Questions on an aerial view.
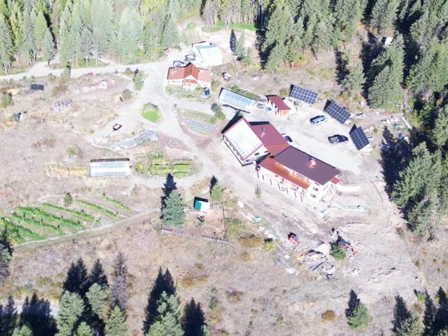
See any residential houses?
Yes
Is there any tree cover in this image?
Yes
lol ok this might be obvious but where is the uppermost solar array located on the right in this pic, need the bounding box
[290,85,318,104]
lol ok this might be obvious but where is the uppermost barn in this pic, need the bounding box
[195,43,222,72]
